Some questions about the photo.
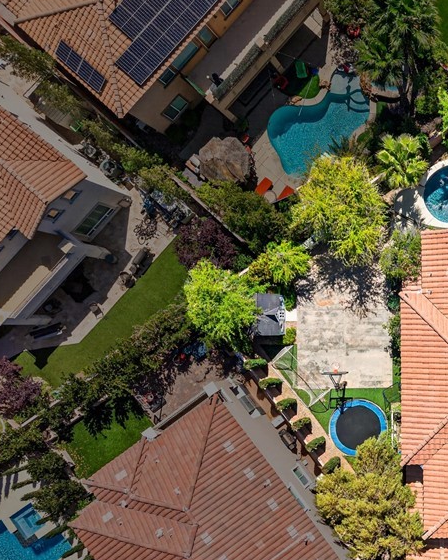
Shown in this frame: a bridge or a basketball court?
basketball court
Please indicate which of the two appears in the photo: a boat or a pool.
pool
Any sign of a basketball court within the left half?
No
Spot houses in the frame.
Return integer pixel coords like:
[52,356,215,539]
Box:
[66,377,356,560]
[0,76,131,335]
[398,230,448,560]
[2,0,340,137]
